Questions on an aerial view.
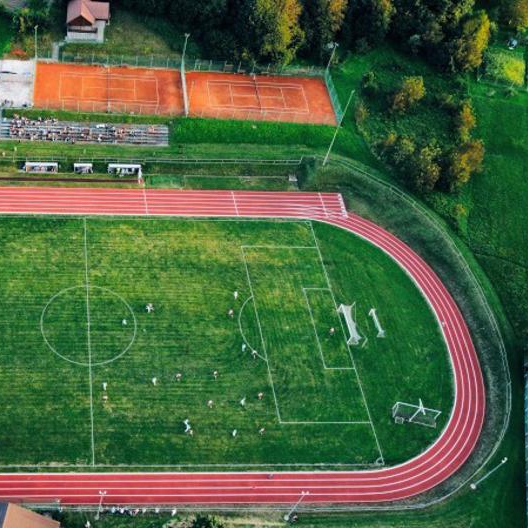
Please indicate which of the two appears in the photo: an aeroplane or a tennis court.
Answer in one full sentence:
There is a tennis court in the scene.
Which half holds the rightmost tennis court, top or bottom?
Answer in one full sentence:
The rightmost tennis court sits in the top half of the picture.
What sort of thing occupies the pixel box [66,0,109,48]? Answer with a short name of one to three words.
building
